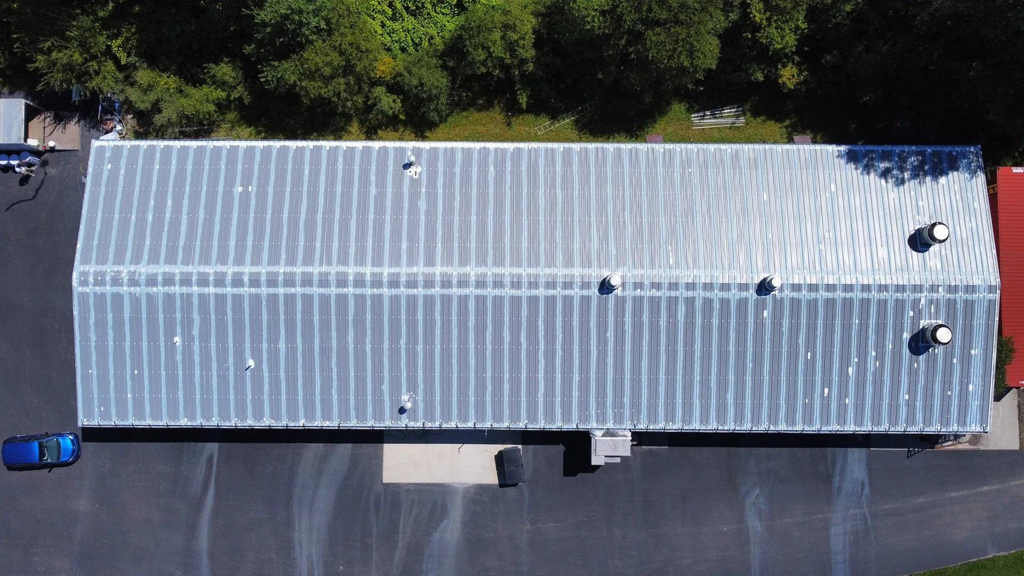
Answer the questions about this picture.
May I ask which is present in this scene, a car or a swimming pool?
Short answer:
car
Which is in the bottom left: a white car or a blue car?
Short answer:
blue car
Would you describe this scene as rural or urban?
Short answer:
urban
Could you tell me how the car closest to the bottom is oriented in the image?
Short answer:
from side to side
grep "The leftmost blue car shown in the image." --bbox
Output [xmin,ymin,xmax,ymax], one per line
[2,430,82,470]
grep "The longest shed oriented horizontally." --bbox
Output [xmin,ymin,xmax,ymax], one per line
[71,140,1001,431]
